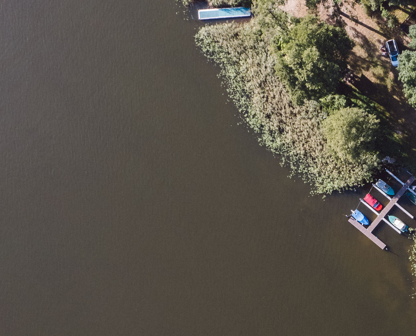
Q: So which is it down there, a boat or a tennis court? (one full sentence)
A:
This aerial view contains a boat.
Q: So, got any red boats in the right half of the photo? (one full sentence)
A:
Yes, a red boat can be seen in the right half of the photo.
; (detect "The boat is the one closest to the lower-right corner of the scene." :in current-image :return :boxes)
[388,213,410,235]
